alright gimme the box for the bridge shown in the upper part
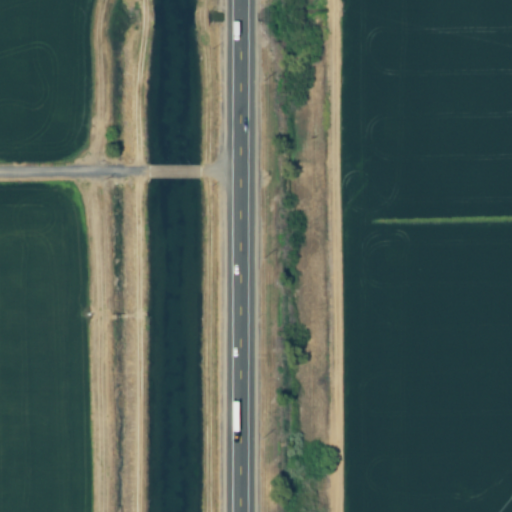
[148,164,204,178]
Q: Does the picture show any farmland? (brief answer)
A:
Yes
